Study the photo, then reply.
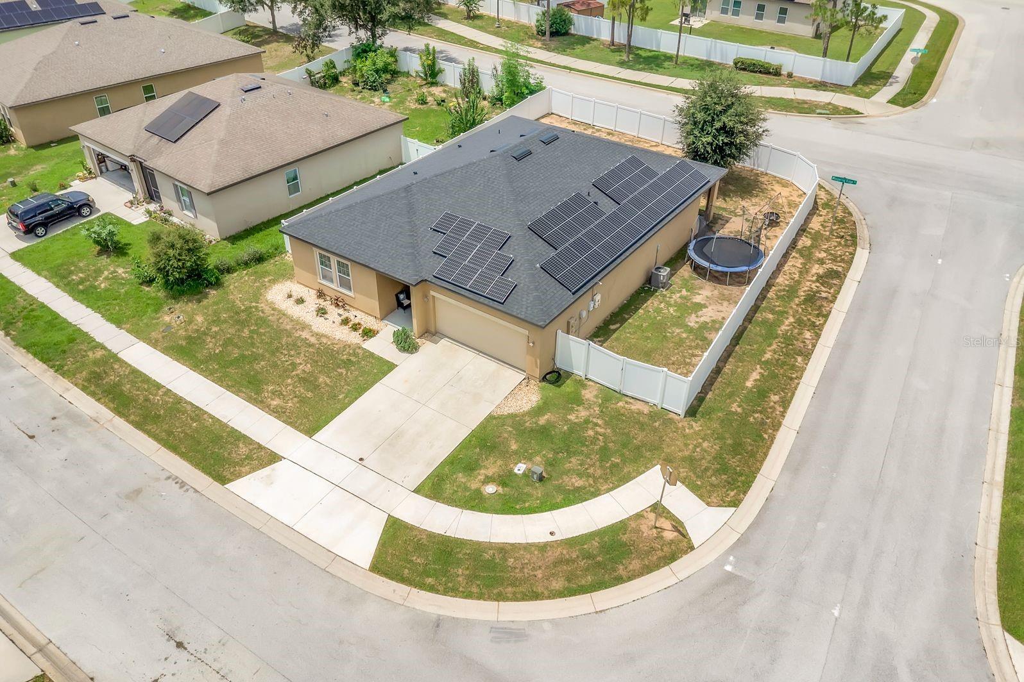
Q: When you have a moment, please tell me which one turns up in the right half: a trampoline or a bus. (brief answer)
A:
trampoline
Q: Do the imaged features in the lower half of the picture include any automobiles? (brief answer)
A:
No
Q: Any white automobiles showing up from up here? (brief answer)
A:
No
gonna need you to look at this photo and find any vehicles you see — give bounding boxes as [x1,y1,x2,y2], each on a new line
[2,193,100,239]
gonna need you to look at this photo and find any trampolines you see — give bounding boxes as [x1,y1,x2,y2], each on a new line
[686,207,770,284]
